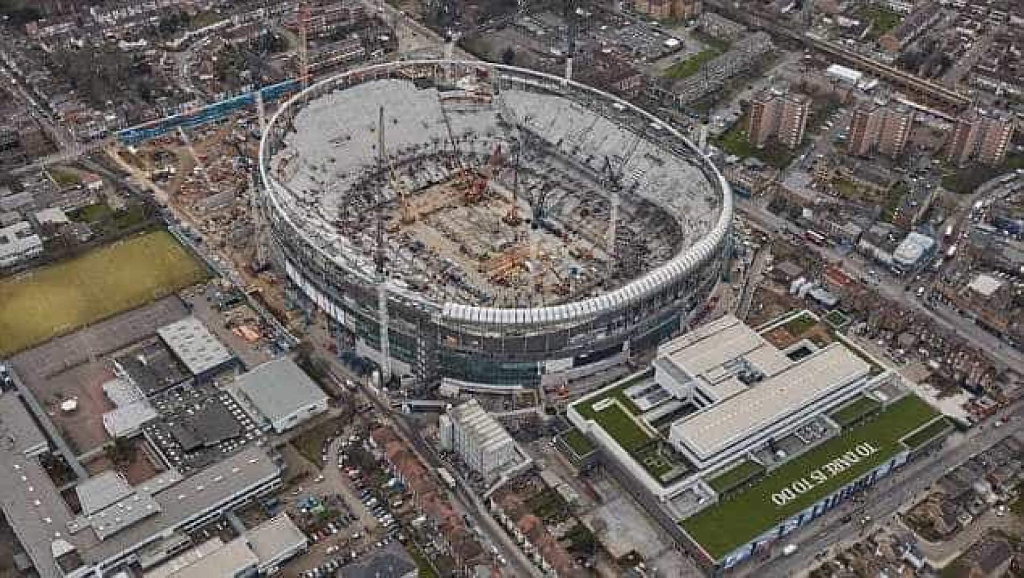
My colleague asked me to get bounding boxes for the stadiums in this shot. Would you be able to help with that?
[257,59,734,396]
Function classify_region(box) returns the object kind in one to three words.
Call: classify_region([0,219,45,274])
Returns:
building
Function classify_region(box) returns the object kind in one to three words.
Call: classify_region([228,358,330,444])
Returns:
building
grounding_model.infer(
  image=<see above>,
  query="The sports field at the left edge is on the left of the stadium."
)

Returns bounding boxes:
[0,228,206,355]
